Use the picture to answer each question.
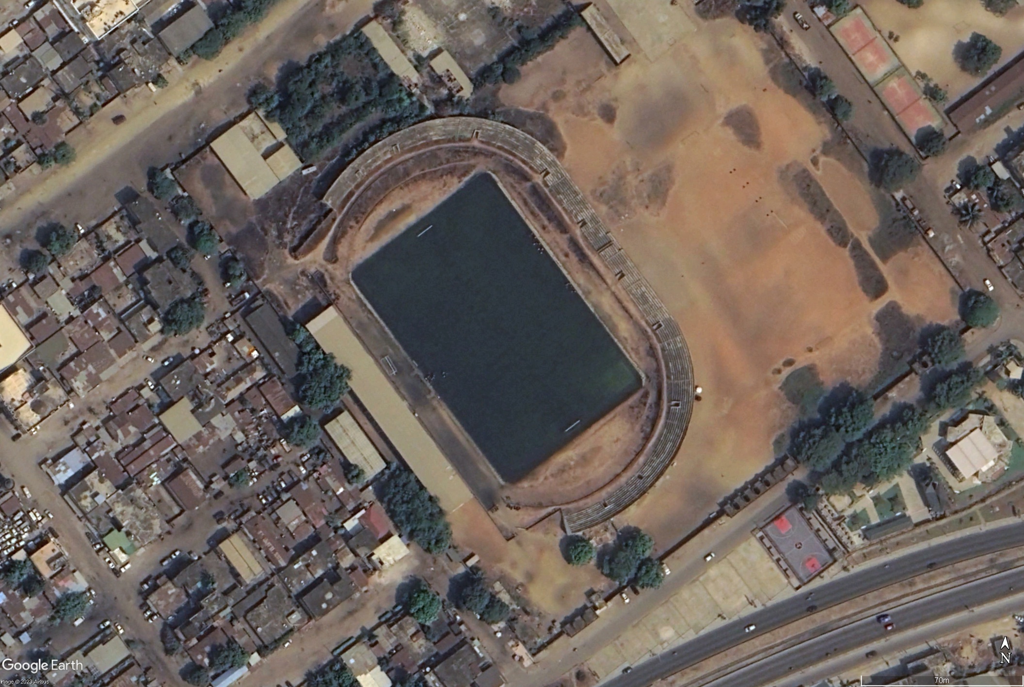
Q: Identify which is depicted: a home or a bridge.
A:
home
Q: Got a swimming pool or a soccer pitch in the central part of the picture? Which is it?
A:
soccer pitch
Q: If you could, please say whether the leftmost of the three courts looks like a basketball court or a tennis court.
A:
basketball court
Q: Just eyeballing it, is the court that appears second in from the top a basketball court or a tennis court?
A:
tennis court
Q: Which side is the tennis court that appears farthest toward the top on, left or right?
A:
right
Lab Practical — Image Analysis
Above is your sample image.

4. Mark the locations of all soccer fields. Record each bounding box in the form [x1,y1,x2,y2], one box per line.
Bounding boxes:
[349,169,646,487]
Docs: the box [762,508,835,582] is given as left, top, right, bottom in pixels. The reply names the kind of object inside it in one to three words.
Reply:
basketball court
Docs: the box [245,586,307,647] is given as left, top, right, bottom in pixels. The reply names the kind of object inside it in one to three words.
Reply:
house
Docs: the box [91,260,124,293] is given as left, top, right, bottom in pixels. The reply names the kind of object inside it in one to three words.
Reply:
house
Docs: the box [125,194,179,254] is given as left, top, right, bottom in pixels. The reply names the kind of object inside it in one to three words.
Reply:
building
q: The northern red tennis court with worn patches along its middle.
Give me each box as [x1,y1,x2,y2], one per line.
[830,8,900,84]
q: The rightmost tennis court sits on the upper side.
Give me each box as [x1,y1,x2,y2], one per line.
[875,67,946,143]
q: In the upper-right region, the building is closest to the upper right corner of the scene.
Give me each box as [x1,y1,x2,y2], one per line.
[950,58,1024,130]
